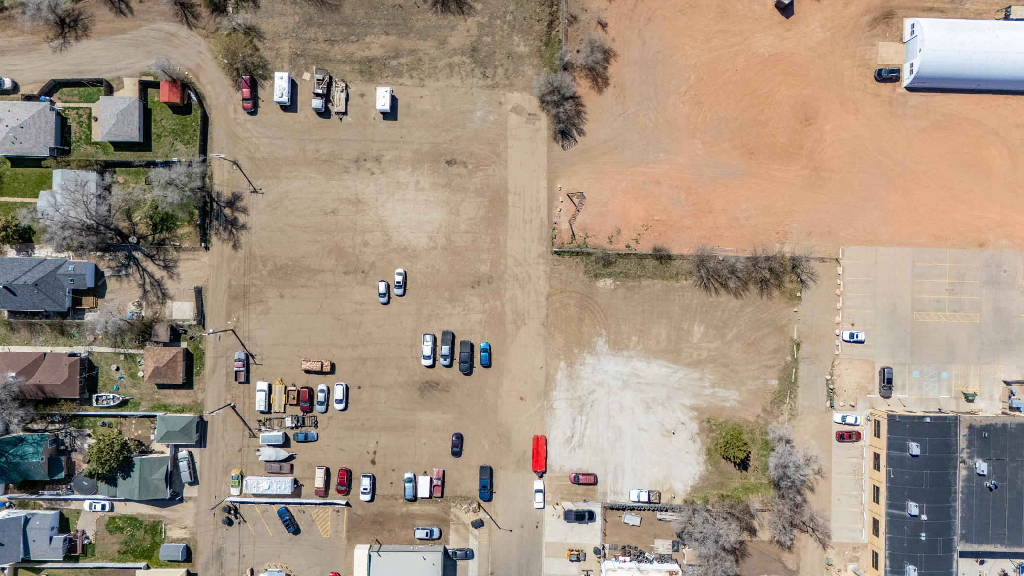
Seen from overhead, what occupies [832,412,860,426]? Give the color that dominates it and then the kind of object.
white car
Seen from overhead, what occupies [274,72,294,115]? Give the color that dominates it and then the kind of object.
white trailer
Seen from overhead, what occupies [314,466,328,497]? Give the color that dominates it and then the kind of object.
white vehicle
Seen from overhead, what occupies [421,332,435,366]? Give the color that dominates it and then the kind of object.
white vehicle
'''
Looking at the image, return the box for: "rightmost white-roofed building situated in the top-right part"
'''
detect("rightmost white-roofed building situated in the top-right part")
[905,17,1024,90]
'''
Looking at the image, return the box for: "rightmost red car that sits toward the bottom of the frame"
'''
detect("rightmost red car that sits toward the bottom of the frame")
[834,430,860,443]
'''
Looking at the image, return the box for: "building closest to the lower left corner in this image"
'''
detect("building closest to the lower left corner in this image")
[0,511,78,563]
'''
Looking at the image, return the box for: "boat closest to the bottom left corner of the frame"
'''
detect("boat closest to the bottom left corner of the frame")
[95,393,131,406]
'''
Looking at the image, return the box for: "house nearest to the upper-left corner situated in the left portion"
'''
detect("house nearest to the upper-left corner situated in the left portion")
[0,100,61,156]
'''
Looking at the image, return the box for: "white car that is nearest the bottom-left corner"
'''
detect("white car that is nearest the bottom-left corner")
[84,499,113,513]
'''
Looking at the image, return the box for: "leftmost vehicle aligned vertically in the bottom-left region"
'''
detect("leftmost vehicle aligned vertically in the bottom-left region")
[176,448,195,483]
